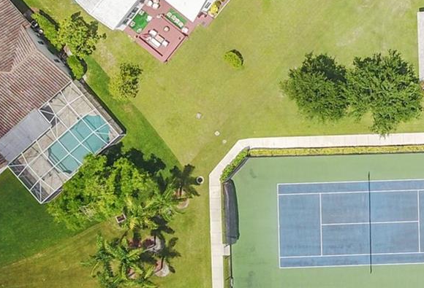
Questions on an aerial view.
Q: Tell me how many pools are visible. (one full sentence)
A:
Altogether the scene contains 1 pool.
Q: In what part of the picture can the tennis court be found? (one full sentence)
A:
The tennis court appears toward the bottom right of the photo.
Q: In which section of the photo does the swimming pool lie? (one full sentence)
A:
The swimming pool is in the left part of the image.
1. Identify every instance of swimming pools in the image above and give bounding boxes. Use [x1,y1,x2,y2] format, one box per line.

[47,113,109,171]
